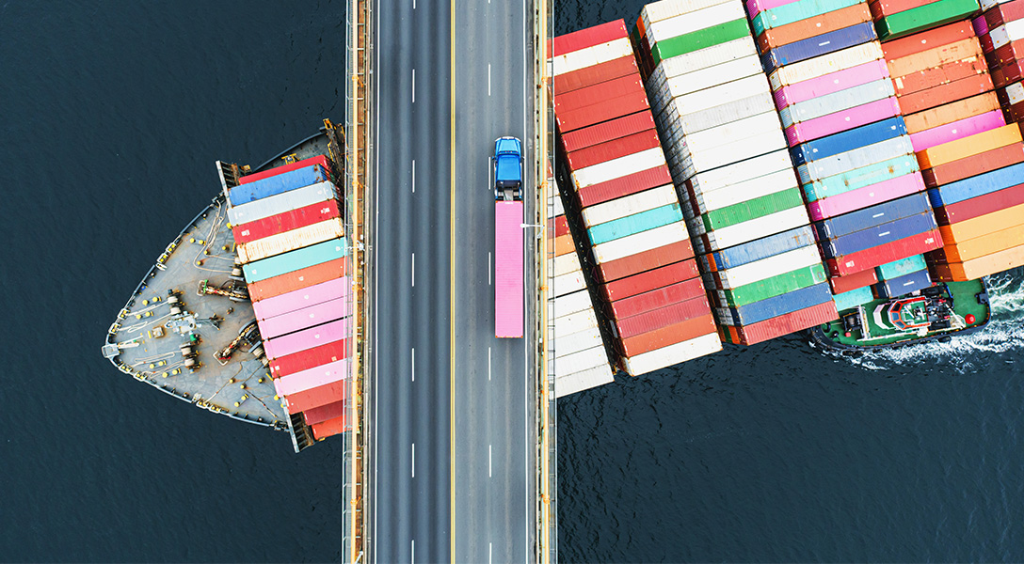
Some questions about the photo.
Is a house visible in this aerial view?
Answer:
No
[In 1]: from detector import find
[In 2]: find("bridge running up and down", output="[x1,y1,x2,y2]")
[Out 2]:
[342,0,558,564]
